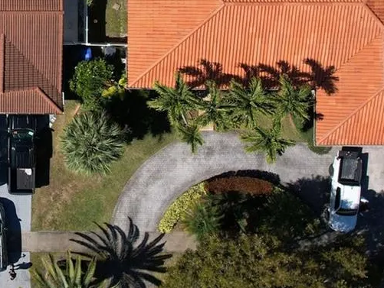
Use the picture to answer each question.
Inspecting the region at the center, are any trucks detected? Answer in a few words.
No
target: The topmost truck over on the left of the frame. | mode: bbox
[5,116,41,197]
